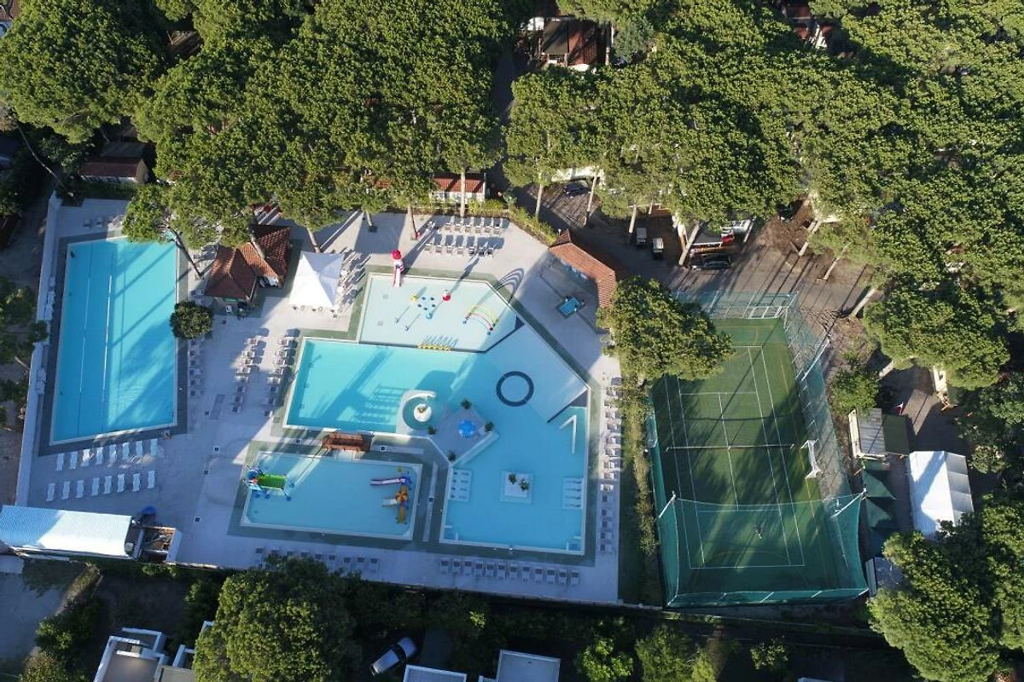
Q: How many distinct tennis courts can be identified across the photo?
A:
1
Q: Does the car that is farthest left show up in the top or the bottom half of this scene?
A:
bottom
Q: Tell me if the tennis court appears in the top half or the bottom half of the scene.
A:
bottom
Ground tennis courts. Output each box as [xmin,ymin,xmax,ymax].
[646,319,841,600]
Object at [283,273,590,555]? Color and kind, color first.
blue swimming pool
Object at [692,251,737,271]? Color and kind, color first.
black car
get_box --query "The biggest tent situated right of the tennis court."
[898,452,977,546]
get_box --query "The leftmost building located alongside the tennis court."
[549,228,635,319]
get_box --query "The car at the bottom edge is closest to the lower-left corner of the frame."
[367,636,418,678]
